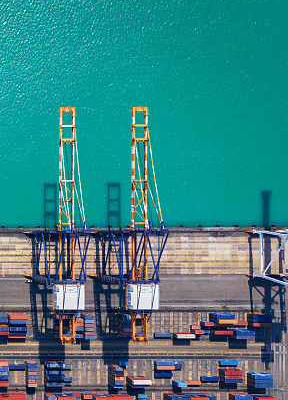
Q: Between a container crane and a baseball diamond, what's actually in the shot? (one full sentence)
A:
Of the two, only a container crane appears.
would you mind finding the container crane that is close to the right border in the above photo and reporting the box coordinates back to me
[242,230,288,281]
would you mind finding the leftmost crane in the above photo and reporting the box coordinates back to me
[24,107,93,345]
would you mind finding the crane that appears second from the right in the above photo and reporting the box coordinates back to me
[89,106,169,345]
